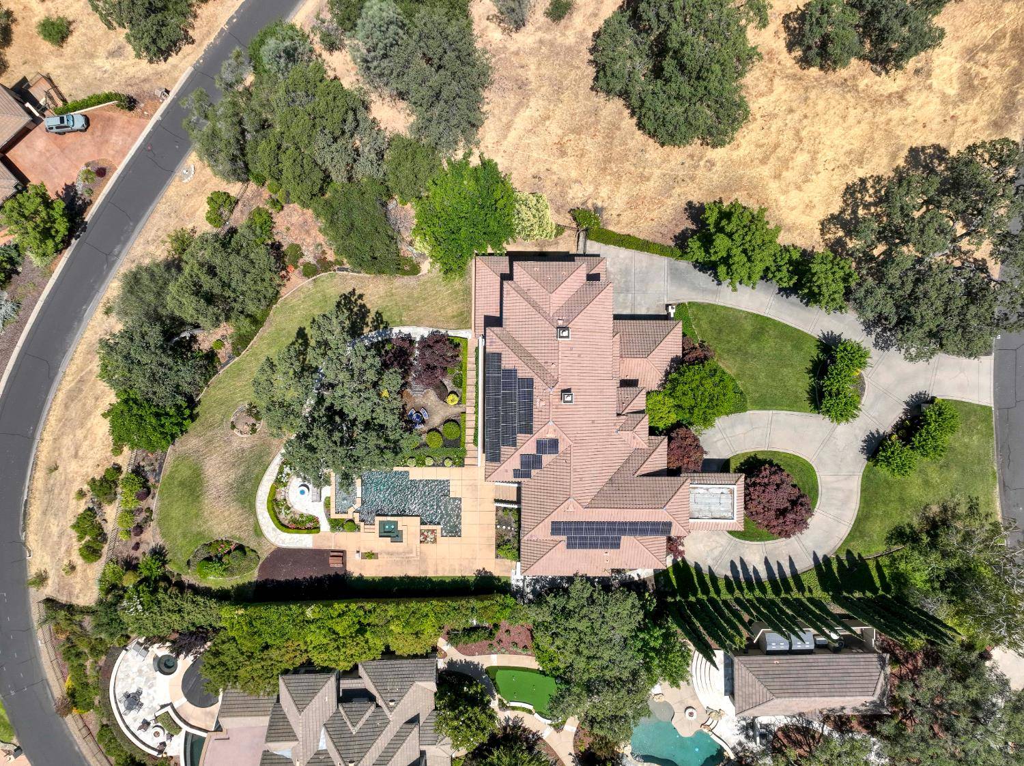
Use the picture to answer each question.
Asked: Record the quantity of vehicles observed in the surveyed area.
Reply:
1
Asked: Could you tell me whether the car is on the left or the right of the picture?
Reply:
left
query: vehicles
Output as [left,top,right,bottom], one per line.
[39,111,85,132]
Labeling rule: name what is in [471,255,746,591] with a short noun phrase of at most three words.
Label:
house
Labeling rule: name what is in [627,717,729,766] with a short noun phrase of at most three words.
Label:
swimming pool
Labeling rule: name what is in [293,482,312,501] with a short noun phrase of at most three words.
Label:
fountain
